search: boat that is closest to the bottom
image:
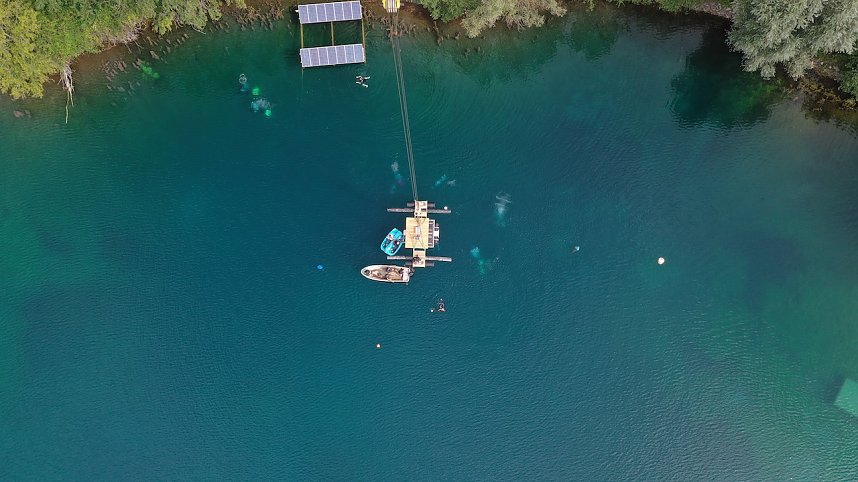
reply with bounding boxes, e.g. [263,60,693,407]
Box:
[360,265,414,282]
